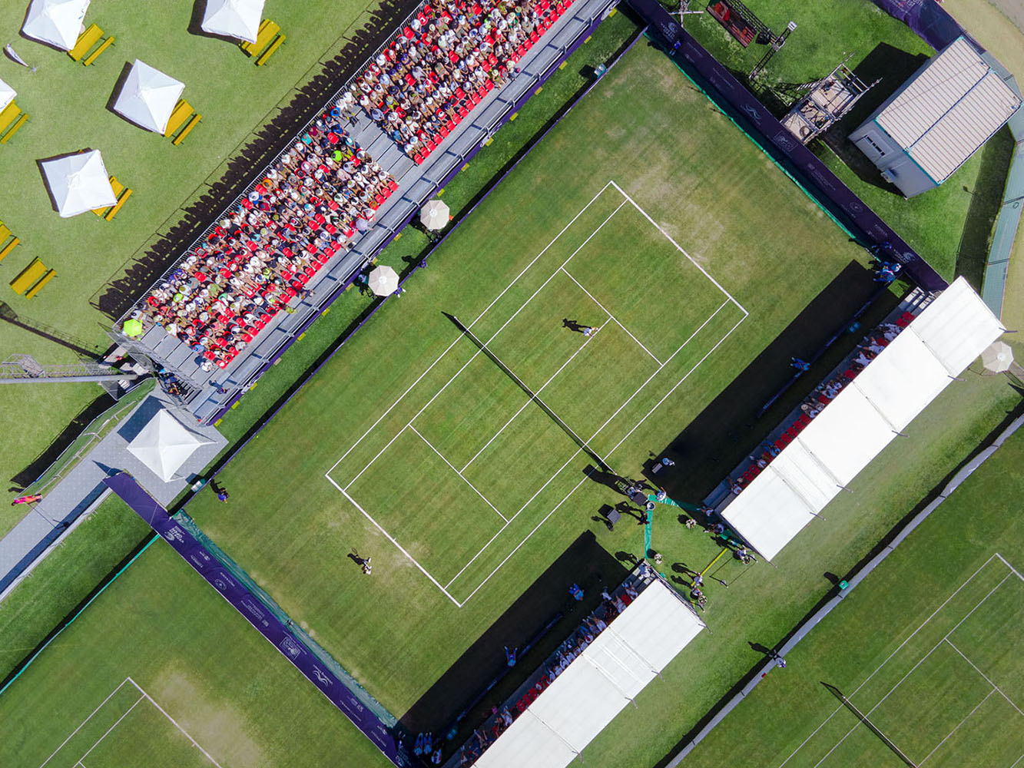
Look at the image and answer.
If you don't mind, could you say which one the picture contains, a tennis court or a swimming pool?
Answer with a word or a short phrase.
tennis court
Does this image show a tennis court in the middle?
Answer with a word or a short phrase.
Yes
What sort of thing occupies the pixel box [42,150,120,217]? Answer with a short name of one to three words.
umbrella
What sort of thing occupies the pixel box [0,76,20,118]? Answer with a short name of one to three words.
umbrella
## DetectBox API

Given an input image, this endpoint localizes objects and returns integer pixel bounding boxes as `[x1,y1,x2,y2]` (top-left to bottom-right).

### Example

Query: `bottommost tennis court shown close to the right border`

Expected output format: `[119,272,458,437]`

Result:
[679,416,1024,768]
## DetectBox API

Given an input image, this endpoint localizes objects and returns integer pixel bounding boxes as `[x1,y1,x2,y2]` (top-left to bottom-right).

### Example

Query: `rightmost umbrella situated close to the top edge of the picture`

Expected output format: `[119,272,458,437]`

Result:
[203,0,272,45]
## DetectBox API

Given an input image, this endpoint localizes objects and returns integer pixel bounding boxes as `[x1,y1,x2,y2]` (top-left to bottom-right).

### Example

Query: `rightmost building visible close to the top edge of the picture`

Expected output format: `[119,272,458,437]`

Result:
[850,35,1024,197]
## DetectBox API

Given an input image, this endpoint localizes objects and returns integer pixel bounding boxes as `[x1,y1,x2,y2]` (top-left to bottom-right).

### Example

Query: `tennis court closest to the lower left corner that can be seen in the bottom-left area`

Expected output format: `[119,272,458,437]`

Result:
[0,535,396,768]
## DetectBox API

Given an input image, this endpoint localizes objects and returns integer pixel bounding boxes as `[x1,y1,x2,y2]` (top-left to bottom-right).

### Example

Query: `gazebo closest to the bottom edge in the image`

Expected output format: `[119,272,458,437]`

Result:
[127,407,218,485]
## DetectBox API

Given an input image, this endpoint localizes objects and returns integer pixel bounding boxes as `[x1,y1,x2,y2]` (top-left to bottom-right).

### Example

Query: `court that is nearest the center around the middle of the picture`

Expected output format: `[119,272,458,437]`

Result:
[177,25,903,757]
